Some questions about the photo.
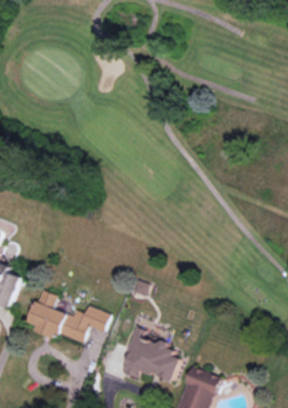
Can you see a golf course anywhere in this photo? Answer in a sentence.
Yes, there is a golf course in the image.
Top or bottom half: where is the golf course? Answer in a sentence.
Seen from above, the golf course lies in the top half of the view.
